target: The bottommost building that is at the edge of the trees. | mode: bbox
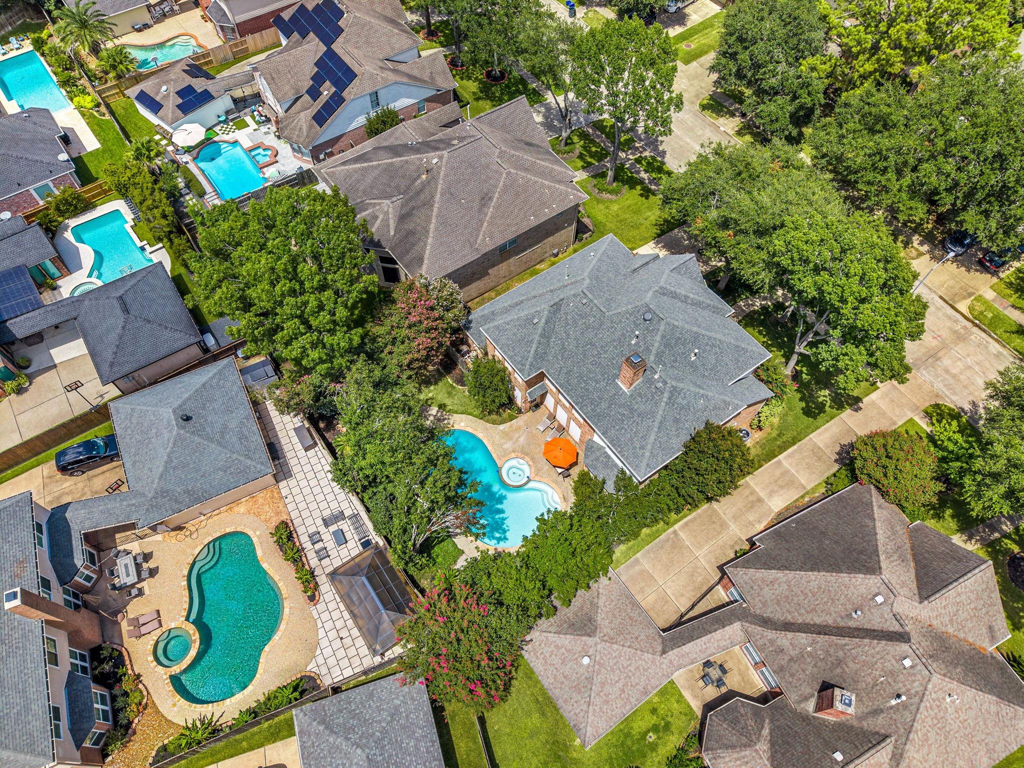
[292,672,447,768]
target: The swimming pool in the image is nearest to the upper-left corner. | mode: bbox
[0,48,73,113]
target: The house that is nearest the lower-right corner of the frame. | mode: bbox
[697,479,1024,768]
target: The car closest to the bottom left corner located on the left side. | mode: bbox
[51,430,119,477]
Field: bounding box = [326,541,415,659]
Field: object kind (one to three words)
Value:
gazebo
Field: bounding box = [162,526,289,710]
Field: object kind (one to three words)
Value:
swimming pool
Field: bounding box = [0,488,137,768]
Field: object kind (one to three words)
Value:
building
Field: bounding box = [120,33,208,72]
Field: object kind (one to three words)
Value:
swimming pool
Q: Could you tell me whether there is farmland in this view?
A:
No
